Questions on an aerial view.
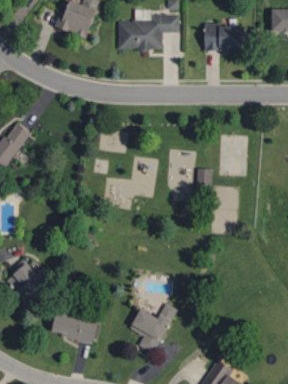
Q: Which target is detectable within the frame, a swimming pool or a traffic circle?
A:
swimming pool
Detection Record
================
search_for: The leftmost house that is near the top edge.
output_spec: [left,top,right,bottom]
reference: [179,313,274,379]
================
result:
[54,0,98,39]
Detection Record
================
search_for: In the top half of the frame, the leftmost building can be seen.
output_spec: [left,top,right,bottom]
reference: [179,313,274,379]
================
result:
[0,123,32,163]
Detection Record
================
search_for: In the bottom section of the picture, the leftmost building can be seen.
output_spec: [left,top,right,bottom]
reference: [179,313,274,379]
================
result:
[6,260,37,292]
